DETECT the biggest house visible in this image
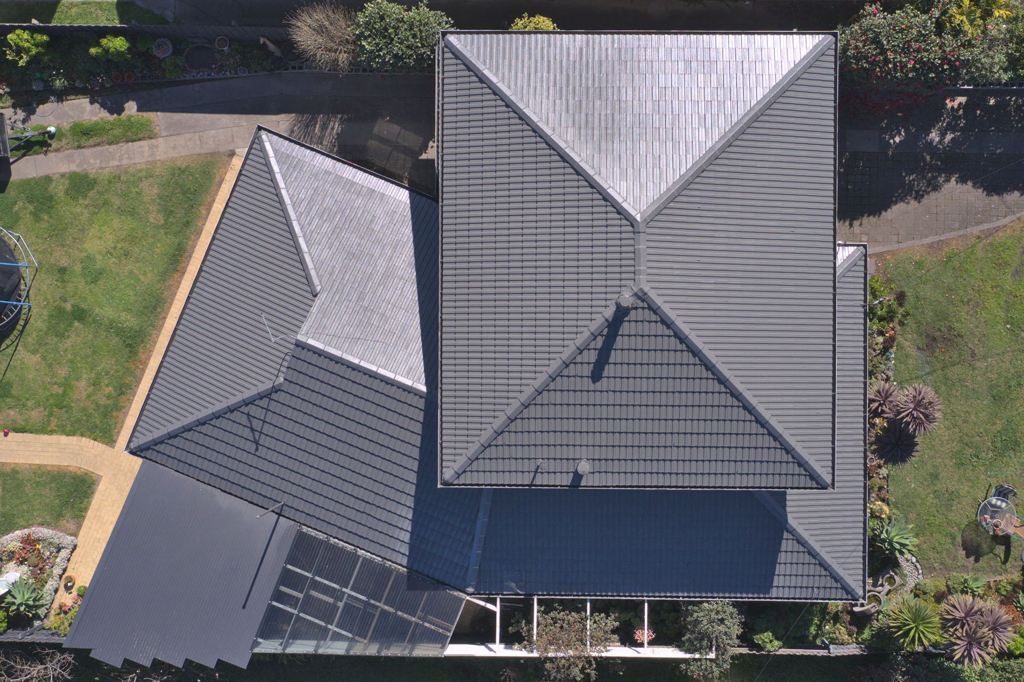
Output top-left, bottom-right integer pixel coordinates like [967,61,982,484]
[125,31,868,602]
